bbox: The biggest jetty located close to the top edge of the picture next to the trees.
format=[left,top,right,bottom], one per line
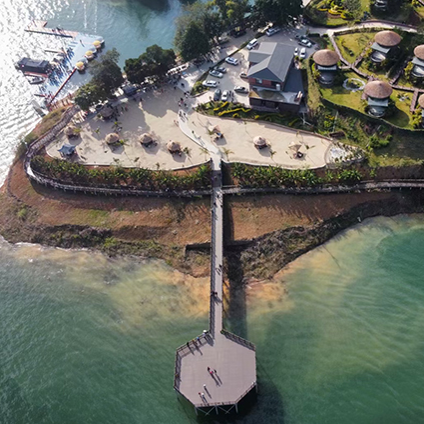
[24,21,103,104]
